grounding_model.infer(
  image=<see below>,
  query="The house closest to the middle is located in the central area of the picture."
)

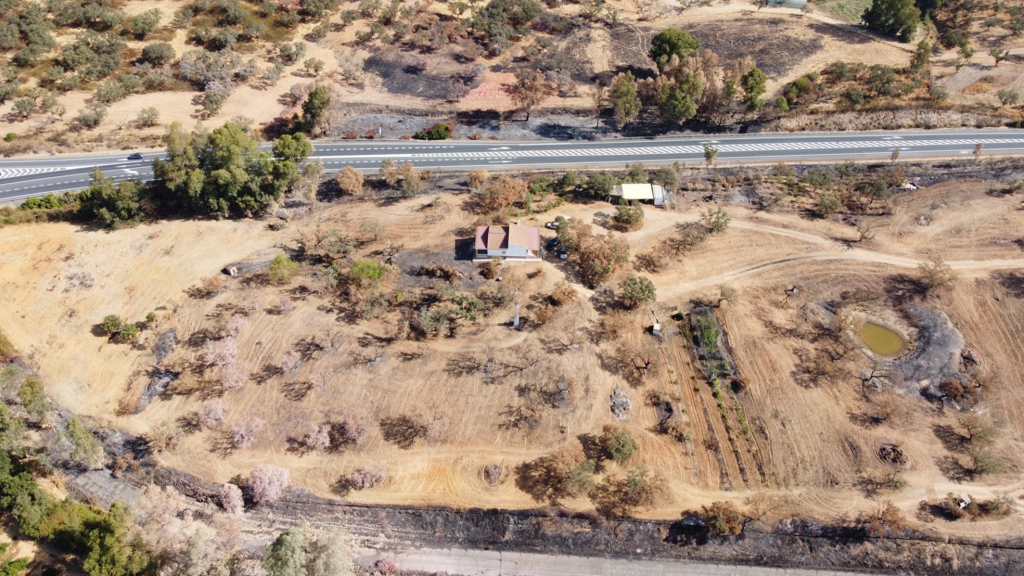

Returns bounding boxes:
[474,217,542,260]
